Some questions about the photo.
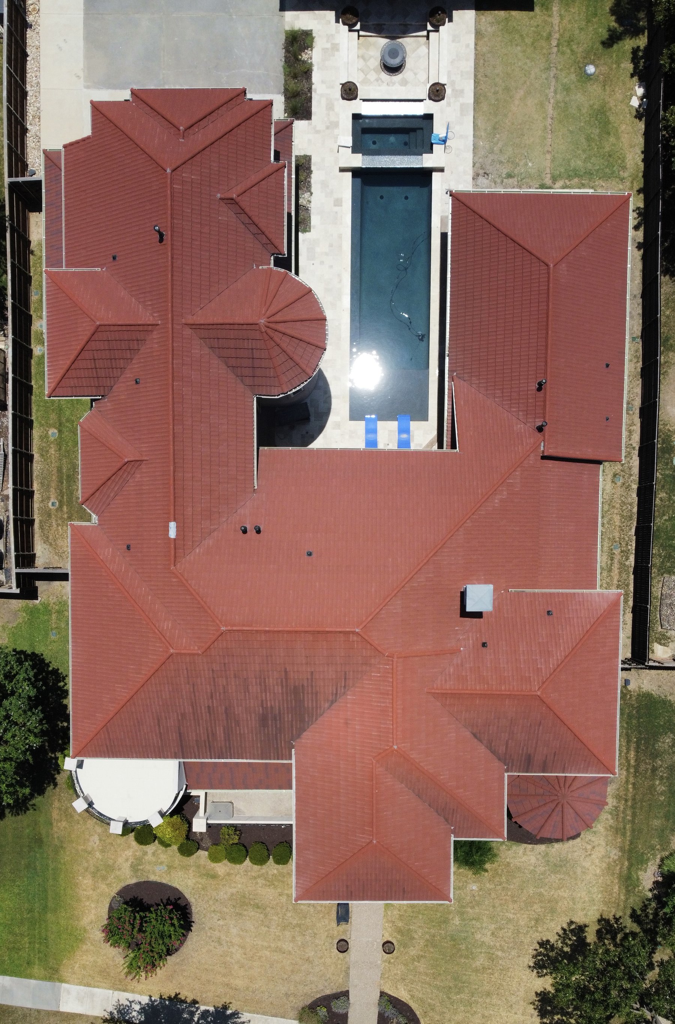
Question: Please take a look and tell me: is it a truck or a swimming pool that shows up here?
swimming pool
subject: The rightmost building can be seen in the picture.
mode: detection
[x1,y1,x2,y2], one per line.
[40,86,634,905]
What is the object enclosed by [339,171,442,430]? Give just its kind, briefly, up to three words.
swimming pool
